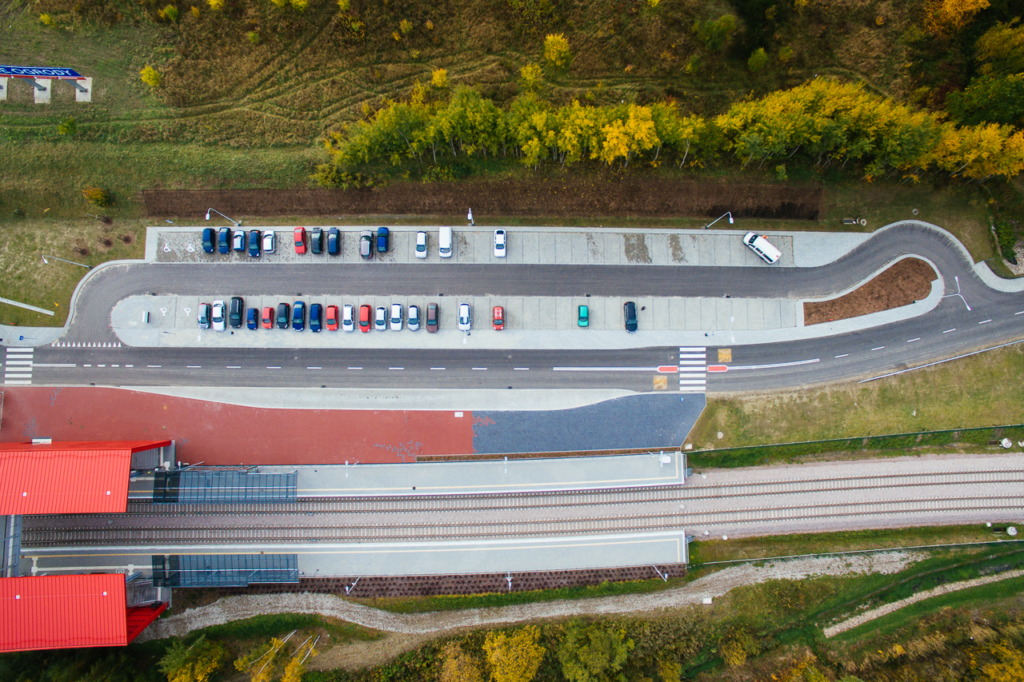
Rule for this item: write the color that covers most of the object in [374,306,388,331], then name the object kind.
white car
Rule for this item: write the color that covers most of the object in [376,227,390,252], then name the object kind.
blue car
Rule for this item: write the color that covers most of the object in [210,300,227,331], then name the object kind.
white car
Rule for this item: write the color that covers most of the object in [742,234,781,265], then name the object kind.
white vehicle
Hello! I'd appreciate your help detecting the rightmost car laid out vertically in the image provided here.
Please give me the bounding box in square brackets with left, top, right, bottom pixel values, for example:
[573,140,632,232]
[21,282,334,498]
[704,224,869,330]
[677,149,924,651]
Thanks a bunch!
[624,301,639,333]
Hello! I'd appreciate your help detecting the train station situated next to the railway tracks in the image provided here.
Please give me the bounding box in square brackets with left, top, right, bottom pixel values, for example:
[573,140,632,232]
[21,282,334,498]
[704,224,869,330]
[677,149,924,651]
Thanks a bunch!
[0,439,167,646]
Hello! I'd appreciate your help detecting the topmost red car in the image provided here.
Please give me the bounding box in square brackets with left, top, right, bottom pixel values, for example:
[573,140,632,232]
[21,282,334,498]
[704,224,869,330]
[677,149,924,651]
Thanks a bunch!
[292,227,307,254]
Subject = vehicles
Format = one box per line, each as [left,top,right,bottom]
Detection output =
[438,226,452,258]
[227,297,244,329]
[324,305,339,331]
[260,307,275,329]
[292,227,307,254]
[389,303,403,331]
[376,227,390,252]
[195,303,212,329]
[201,228,216,253]
[210,300,227,331]
[326,227,341,256]
[308,304,324,333]
[624,301,639,333]
[359,230,374,258]
[309,228,324,254]
[247,229,262,257]
[406,305,420,331]
[374,306,388,331]
[742,234,781,265]
[357,305,372,332]
[231,230,247,251]
[245,308,260,330]
[275,303,290,329]
[341,304,355,332]
[425,303,439,333]
[457,302,472,331]
[217,227,233,254]
[261,230,277,253]
[414,231,428,258]
[291,301,306,332]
